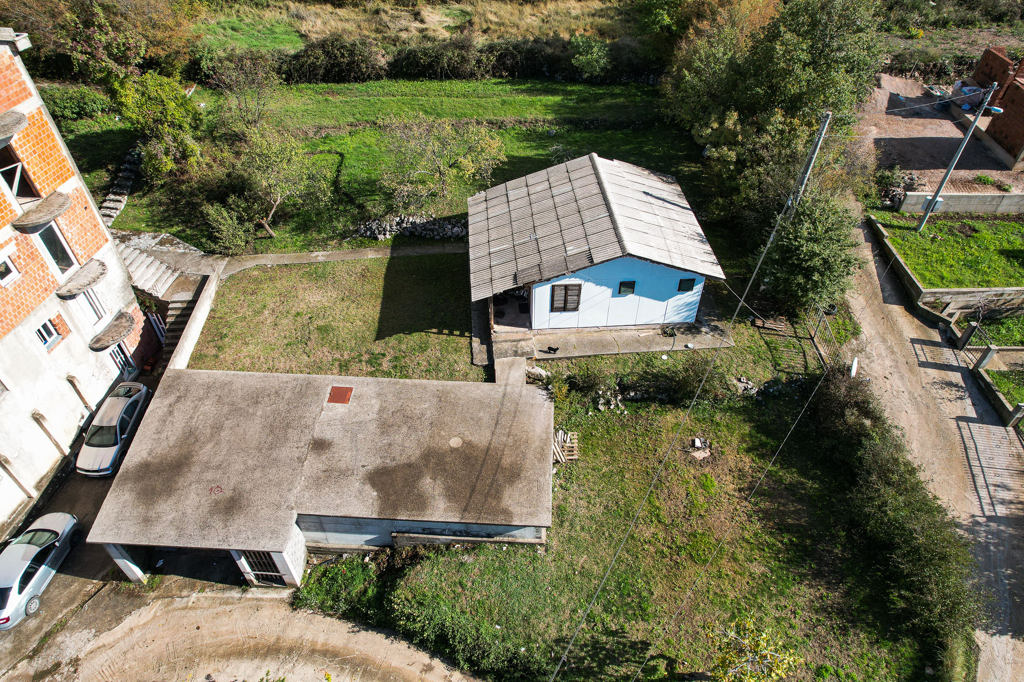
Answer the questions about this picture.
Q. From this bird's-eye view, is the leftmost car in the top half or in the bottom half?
bottom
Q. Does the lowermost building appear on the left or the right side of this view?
left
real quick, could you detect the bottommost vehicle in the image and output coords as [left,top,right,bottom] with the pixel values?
[0,511,88,645]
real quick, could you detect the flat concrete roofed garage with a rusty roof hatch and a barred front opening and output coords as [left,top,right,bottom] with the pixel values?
[87,369,553,595]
